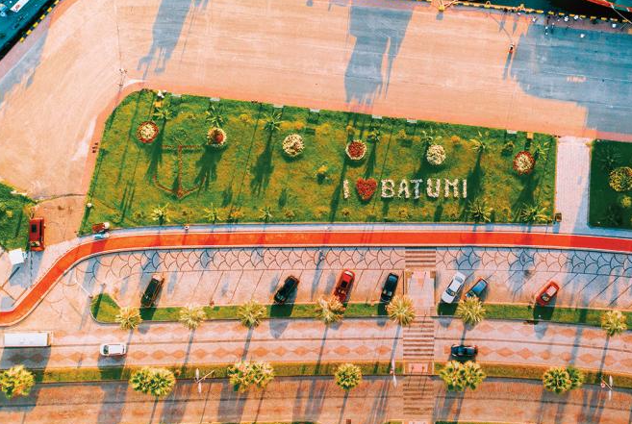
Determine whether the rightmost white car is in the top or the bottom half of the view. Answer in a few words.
bottom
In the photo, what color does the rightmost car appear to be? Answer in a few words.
red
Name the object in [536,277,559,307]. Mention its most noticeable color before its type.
red car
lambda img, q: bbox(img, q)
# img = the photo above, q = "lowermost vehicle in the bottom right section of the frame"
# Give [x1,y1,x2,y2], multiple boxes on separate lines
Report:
[449,343,478,359]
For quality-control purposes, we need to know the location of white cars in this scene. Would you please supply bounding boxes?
[98,342,126,357]
[441,272,466,305]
